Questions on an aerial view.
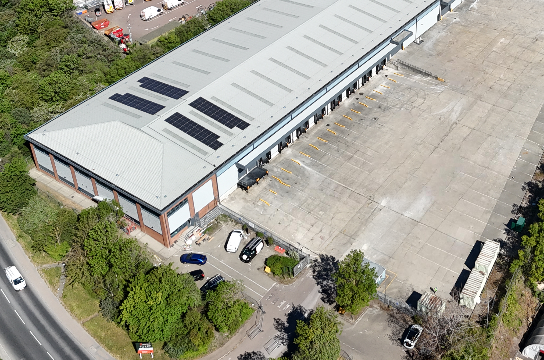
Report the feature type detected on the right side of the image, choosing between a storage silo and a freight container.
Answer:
freight container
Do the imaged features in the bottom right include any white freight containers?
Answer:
Yes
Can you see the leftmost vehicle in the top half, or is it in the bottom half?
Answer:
bottom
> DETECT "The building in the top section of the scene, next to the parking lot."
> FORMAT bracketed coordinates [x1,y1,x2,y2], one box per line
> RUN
[22,0,464,245]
